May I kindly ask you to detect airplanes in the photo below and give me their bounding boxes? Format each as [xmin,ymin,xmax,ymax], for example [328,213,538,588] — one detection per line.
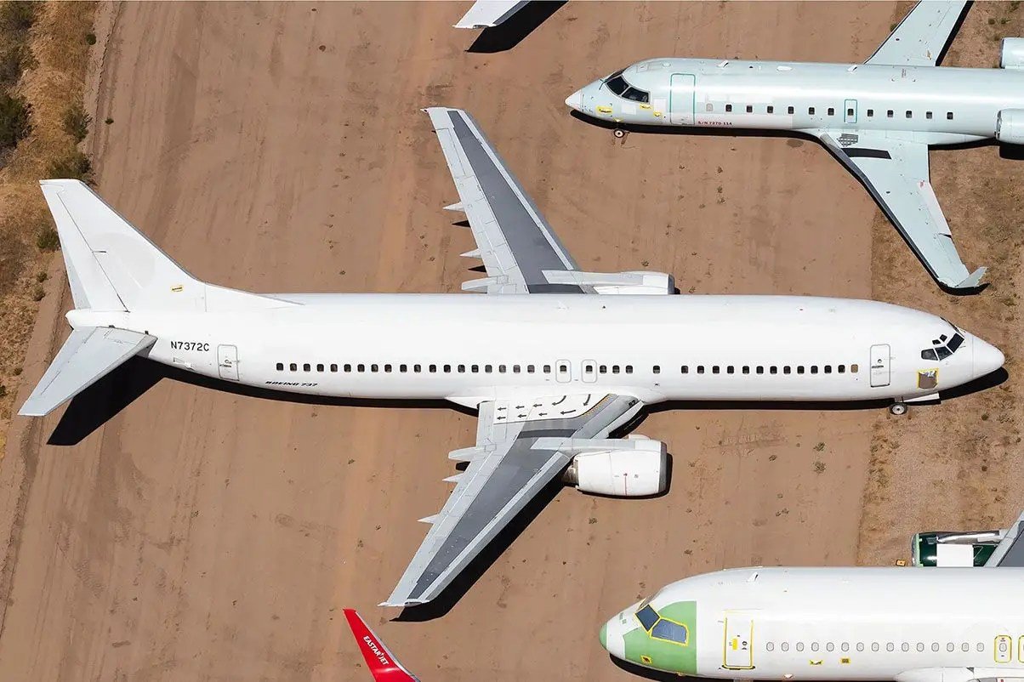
[453,0,526,28]
[599,515,1024,682]
[565,0,1024,284]
[344,608,418,682]
[19,108,1005,605]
